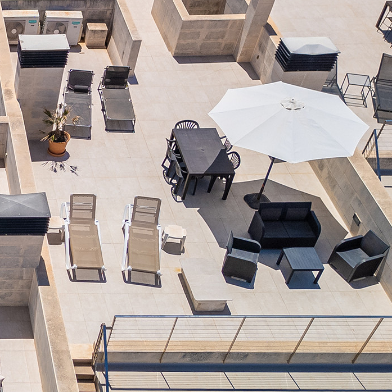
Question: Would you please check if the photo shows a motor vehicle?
No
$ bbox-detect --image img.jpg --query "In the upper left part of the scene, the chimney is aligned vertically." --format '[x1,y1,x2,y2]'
[16,30,70,136]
